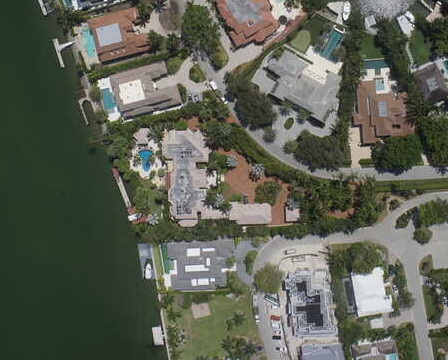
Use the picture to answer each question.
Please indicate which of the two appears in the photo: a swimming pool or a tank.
swimming pool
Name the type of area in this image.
residential area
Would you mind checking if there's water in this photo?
Yes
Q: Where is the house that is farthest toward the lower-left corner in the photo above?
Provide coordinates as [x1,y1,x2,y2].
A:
[169,241,235,291]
